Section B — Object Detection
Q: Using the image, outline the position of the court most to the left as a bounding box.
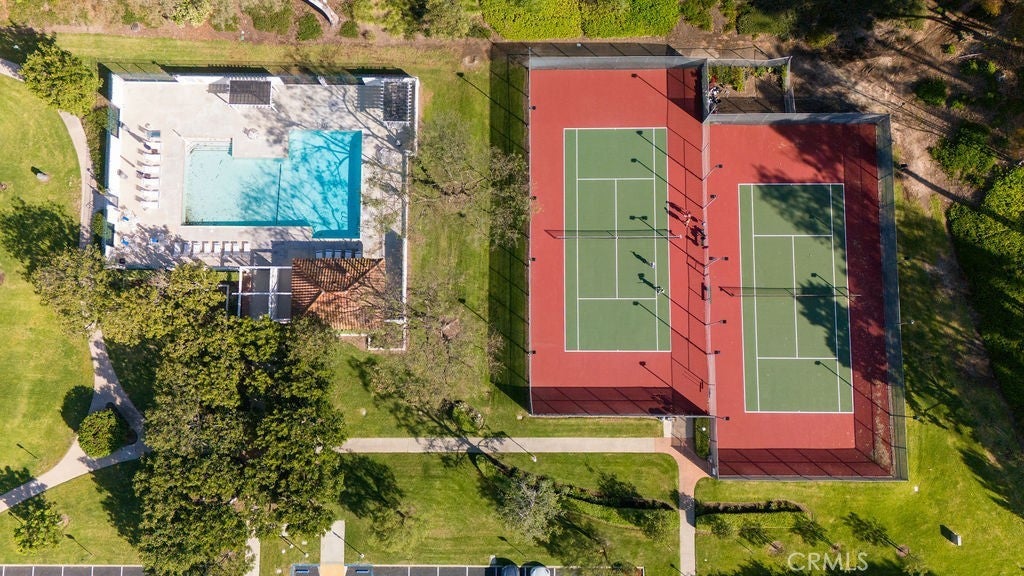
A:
[529,68,708,415]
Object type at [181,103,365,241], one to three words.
swimming pool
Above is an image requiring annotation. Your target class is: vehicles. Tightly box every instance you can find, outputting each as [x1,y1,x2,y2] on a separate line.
[531,567,549,576]
[501,566,519,576]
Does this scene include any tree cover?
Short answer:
Yes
